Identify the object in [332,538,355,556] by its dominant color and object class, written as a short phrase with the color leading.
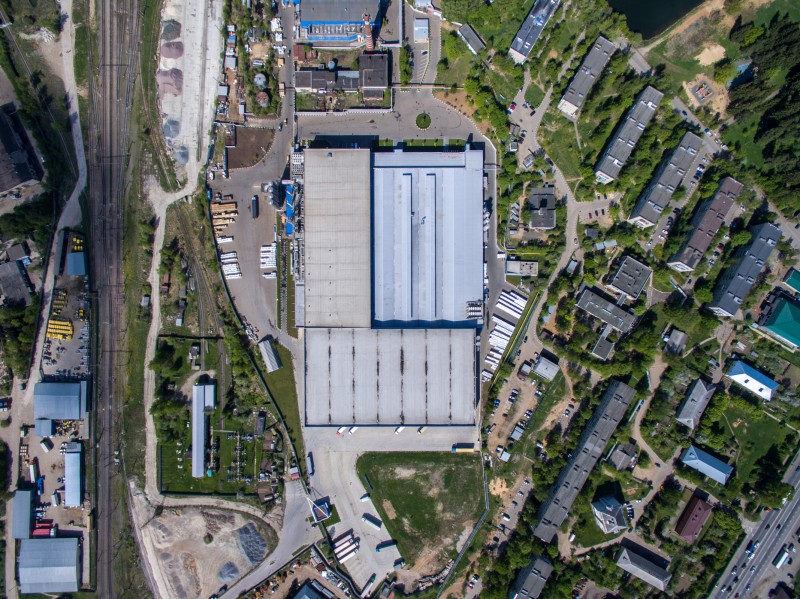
white vehicle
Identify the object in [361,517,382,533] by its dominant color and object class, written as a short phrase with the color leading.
white vehicle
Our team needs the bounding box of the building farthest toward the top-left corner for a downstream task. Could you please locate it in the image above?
[0,103,55,205]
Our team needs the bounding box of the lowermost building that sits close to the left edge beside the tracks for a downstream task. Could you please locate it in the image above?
[17,533,85,593]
